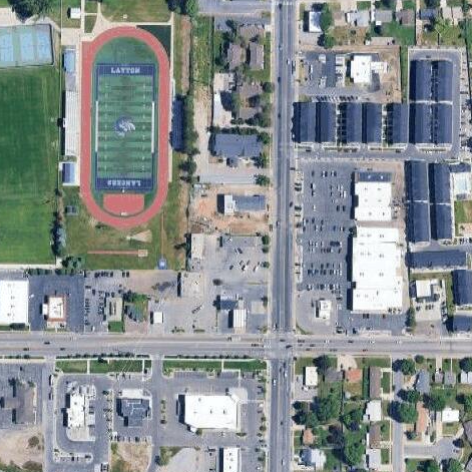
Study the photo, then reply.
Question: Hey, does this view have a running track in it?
Yes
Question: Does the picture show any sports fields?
Yes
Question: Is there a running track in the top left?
Yes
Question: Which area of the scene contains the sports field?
top left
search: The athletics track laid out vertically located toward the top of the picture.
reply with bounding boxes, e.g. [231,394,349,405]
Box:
[81,27,170,230]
